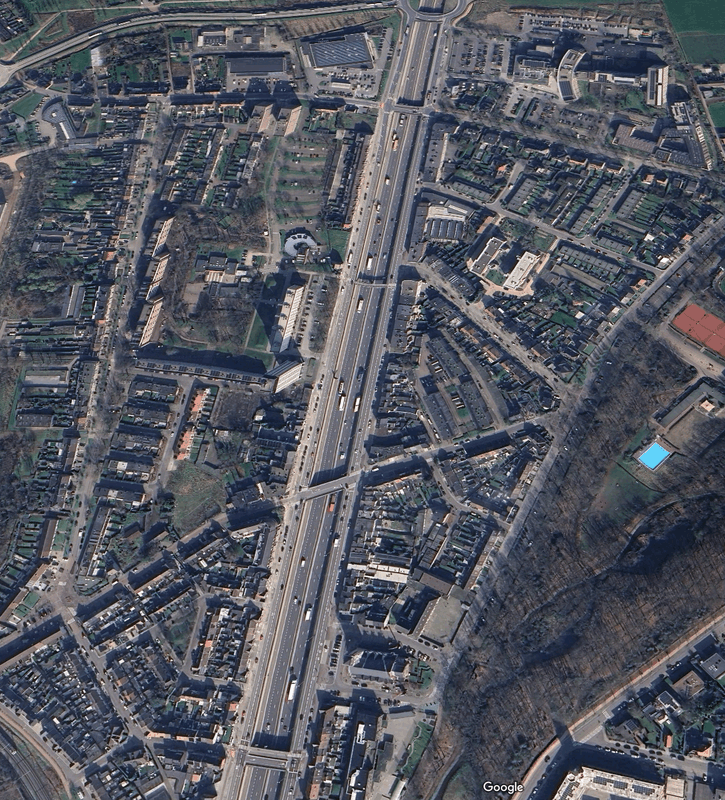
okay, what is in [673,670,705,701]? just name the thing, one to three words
house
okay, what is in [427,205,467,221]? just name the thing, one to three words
building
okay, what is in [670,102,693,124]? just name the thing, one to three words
building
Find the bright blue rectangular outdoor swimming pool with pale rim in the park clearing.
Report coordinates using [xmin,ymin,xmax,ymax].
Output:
[638,441,672,473]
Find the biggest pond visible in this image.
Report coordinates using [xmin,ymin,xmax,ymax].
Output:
[615,516,718,576]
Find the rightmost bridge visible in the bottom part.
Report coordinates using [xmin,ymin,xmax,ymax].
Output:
[303,475,348,501]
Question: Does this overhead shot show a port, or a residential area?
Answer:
residential area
